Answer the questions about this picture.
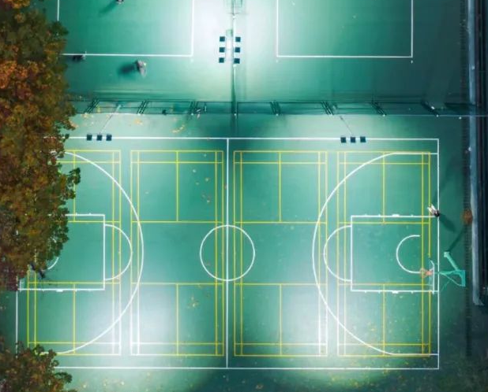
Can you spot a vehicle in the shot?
No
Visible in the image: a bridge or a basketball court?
basketball court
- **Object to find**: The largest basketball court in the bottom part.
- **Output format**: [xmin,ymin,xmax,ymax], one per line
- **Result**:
[11,135,444,372]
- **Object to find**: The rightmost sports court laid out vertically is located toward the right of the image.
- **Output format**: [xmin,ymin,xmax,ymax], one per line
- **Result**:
[337,151,431,357]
